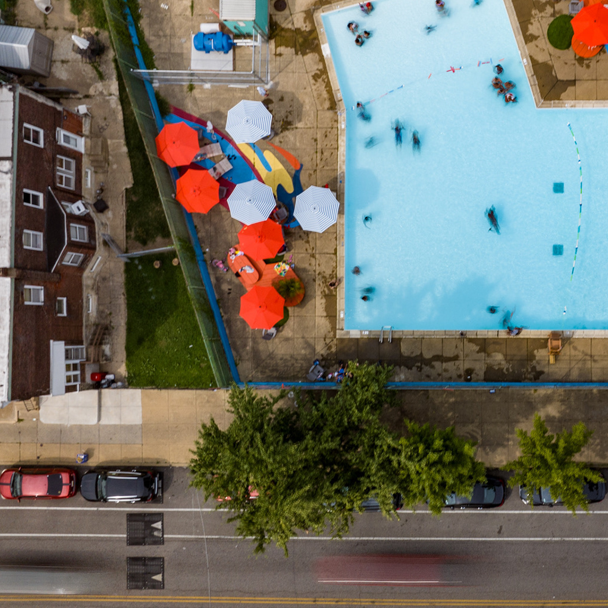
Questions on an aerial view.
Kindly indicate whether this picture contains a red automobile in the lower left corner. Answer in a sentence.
Yes, a red automobile appears in the lower left corner.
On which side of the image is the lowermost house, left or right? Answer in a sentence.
You can find the lowermost house on the left side of the picture.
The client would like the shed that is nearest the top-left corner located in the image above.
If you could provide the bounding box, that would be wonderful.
[0,29,54,78]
